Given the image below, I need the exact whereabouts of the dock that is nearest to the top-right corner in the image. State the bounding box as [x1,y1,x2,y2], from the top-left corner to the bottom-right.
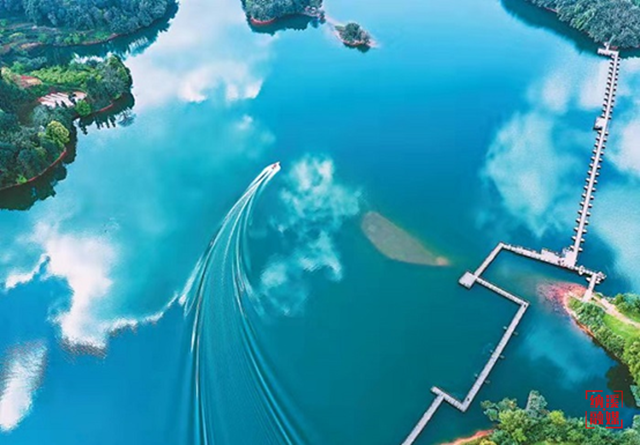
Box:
[568,44,621,263]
